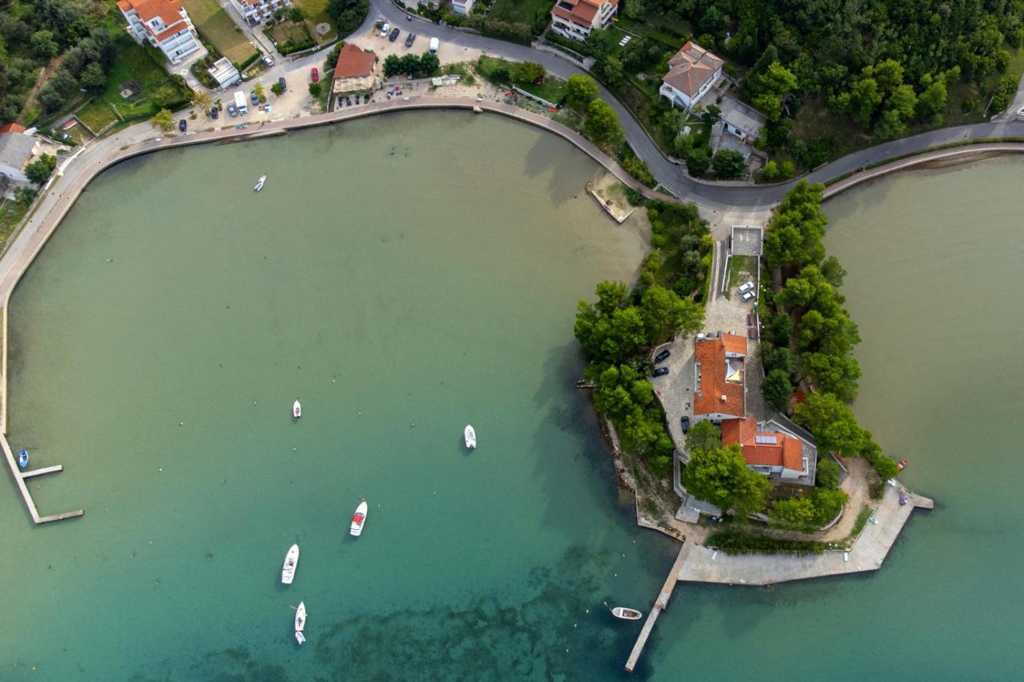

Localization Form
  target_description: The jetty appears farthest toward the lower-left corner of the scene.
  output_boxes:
[0,432,86,528]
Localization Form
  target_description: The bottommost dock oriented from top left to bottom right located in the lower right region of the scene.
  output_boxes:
[899,483,934,511]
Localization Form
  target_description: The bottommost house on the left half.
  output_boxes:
[0,132,45,186]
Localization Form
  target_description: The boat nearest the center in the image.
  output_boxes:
[464,424,476,451]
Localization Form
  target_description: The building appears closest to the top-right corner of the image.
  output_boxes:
[720,91,780,140]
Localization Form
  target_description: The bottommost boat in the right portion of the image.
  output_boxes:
[612,606,642,619]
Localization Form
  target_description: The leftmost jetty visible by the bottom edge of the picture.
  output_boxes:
[624,542,687,674]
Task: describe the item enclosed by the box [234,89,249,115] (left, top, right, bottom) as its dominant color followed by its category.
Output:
white camper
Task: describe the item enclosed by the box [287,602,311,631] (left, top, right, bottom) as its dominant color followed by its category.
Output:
white boat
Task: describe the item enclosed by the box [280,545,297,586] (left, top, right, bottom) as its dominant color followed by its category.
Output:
white boat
